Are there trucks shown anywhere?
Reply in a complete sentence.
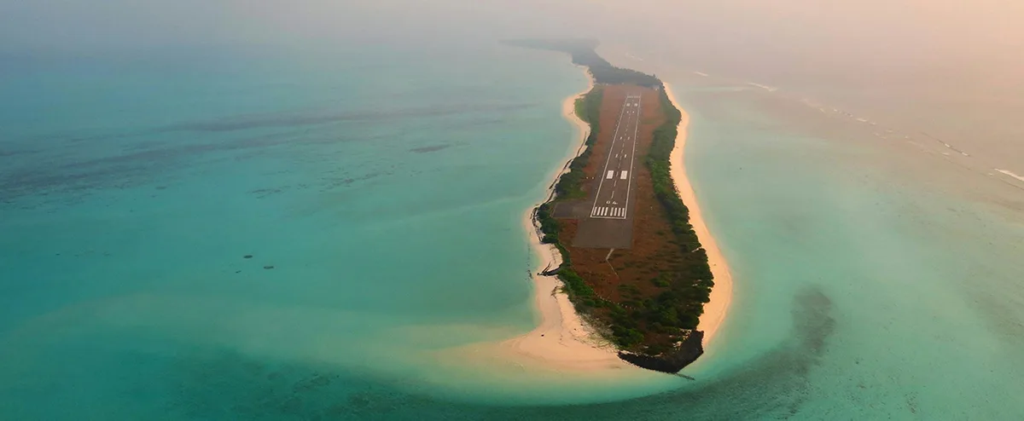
No, I can see no truck in this picture.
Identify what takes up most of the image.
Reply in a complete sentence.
The largest share of the image is taken up by water.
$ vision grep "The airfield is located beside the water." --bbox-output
[550,86,679,257]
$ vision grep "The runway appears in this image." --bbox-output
[582,93,645,220]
